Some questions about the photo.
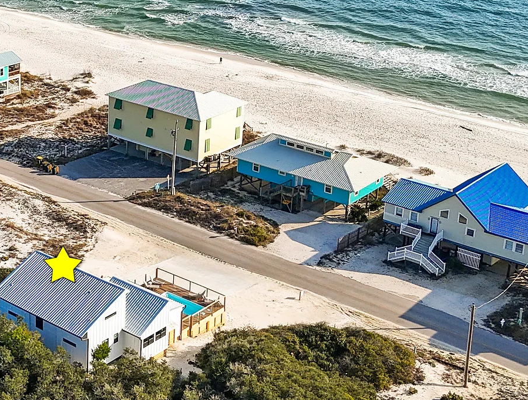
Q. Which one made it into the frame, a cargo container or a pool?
pool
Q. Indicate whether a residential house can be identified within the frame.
Yes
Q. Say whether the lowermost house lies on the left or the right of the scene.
left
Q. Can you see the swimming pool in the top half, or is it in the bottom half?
bottom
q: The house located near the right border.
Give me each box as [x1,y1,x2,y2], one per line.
[377,156,528,282]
